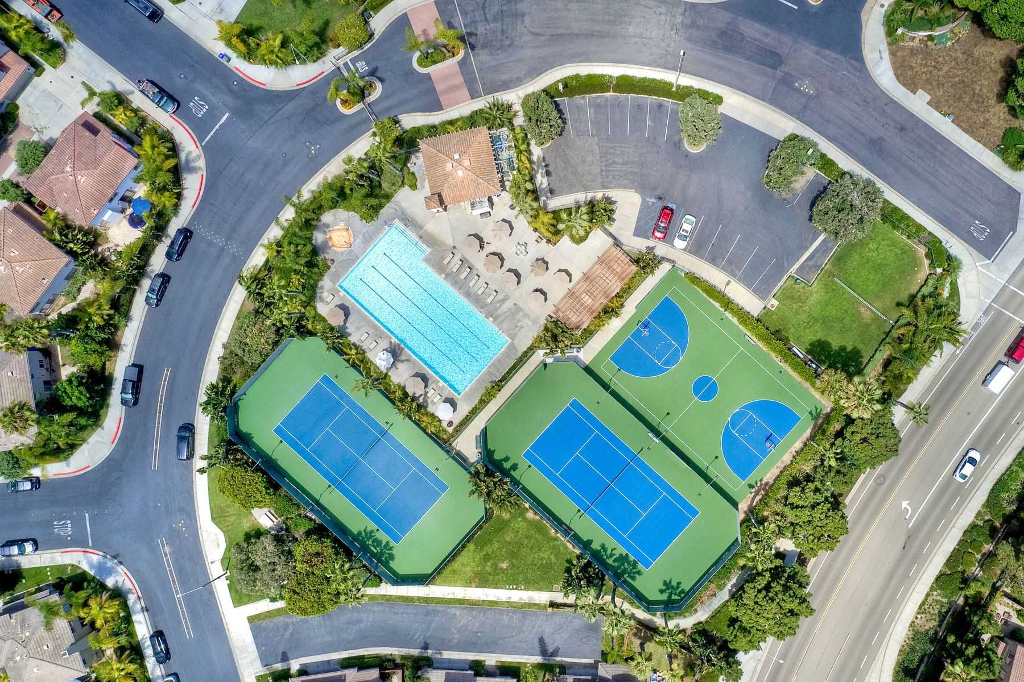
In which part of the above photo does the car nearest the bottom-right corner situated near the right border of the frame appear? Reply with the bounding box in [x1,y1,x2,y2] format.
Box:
[950,447,978,483]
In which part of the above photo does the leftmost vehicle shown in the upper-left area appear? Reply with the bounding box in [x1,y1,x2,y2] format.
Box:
[24,0,64,22]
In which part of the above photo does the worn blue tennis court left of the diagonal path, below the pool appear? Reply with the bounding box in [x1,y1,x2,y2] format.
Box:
[236,340,480,581]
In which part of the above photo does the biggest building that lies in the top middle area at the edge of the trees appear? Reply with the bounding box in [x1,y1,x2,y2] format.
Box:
[417,124,503,207]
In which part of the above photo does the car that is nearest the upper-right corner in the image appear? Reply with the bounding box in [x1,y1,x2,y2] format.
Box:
[1002,321,1024,359]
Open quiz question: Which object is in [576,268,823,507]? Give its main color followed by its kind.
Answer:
green basketball court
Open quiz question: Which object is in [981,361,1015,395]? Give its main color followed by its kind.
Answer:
white trailer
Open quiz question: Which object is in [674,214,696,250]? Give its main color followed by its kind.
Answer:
white car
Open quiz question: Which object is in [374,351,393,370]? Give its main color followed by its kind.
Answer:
white umbrella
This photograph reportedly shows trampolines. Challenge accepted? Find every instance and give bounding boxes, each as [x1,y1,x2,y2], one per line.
[124,210,144,229]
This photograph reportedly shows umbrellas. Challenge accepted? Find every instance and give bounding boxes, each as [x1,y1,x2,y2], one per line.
[491,220,511,240]
[459,235,480,256]
[131,196,152,215]
[525,289,544,308]
[482,252,502,273]
[326,308,344,326]
[406,377,425,396]
[550,269,571,291]
[436,402,453,420]
[497,270,518,291]
[374,351,393,370]
[531,259,547,275]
